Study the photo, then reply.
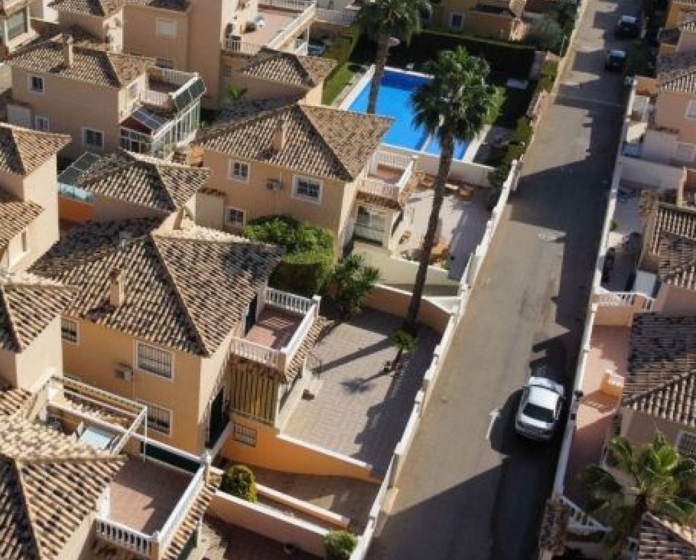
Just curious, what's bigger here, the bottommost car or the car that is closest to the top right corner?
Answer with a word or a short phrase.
the bottommost car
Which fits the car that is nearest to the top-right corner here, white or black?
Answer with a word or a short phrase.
black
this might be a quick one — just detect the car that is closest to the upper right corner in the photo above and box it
[619,14,642,39]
